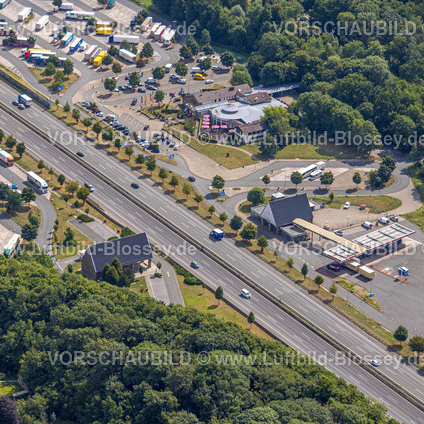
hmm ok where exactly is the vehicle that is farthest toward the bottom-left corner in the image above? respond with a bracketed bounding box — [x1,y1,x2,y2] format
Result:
[4,234,20,260]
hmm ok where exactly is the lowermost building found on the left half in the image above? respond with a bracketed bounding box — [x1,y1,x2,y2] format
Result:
[79,231,156,279]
